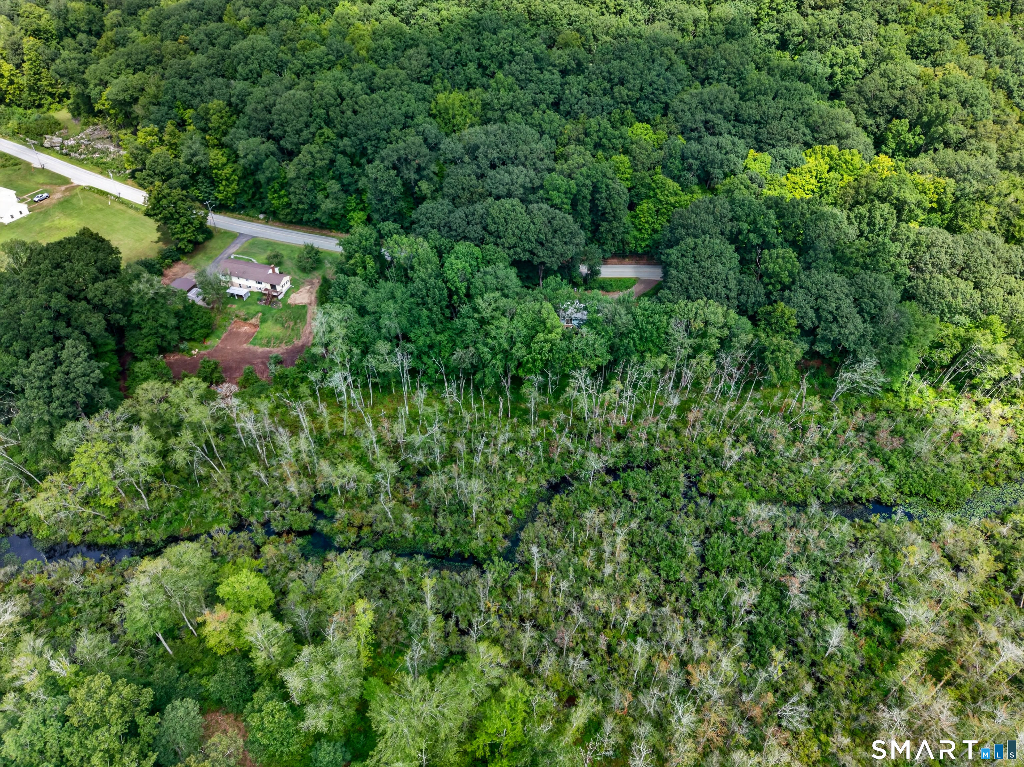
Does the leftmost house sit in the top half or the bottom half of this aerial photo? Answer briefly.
top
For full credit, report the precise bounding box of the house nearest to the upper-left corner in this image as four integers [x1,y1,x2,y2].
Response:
[0,186,30,228]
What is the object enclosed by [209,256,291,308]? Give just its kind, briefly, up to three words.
house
